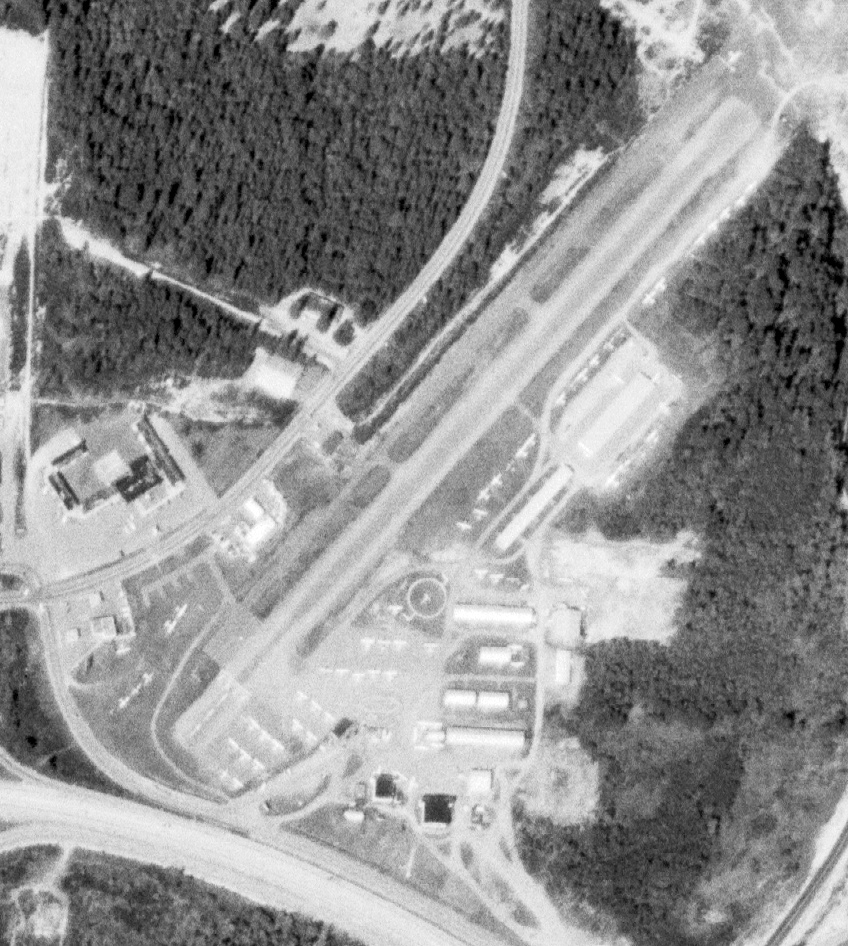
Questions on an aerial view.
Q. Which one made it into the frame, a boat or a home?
home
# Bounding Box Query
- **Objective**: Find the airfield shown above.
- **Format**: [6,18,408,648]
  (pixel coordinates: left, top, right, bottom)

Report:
[150,75,778,946]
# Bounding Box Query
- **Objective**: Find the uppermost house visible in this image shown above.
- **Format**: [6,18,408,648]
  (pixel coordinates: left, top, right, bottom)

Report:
[286,294,335,333]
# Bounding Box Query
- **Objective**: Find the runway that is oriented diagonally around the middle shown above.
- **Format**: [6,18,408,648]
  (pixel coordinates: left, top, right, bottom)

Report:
[171,100,749,746]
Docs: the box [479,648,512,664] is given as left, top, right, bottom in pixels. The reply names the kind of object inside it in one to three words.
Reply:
hangar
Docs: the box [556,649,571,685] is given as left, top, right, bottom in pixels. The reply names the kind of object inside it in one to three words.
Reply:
building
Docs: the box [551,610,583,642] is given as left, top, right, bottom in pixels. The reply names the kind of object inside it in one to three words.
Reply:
hangar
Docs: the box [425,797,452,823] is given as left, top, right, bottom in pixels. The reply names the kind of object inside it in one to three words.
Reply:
building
